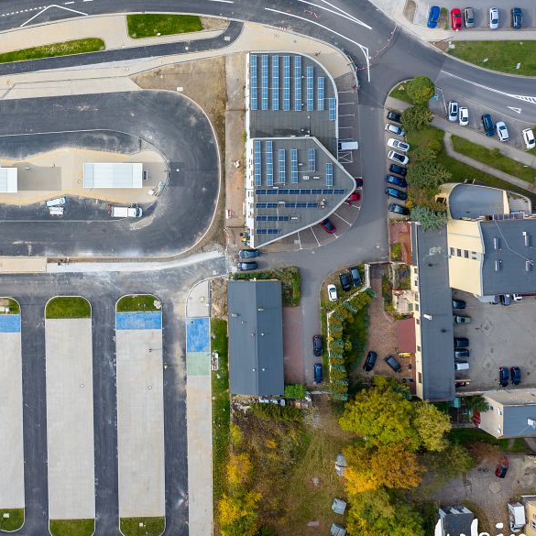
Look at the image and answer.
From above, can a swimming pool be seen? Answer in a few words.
No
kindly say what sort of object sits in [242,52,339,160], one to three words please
building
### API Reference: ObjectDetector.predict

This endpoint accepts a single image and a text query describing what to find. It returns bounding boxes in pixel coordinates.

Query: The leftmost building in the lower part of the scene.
[224,278,285,397]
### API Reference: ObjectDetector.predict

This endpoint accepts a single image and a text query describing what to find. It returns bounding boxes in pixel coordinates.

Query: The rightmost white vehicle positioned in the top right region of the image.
[521,128,535,149]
